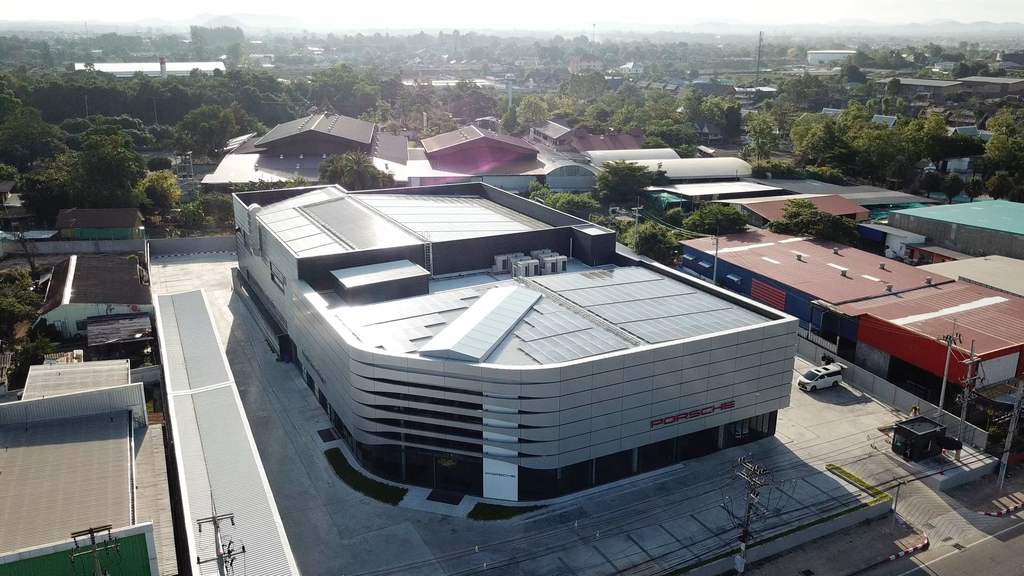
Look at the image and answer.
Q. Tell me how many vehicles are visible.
one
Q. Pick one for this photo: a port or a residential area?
residential area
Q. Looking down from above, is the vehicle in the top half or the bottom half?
bottom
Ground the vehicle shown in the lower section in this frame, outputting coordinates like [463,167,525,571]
[796,362,846,391]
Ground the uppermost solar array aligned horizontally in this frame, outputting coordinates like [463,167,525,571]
[358,194,551,240]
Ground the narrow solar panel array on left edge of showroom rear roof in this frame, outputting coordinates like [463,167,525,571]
[251,195,344,256]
